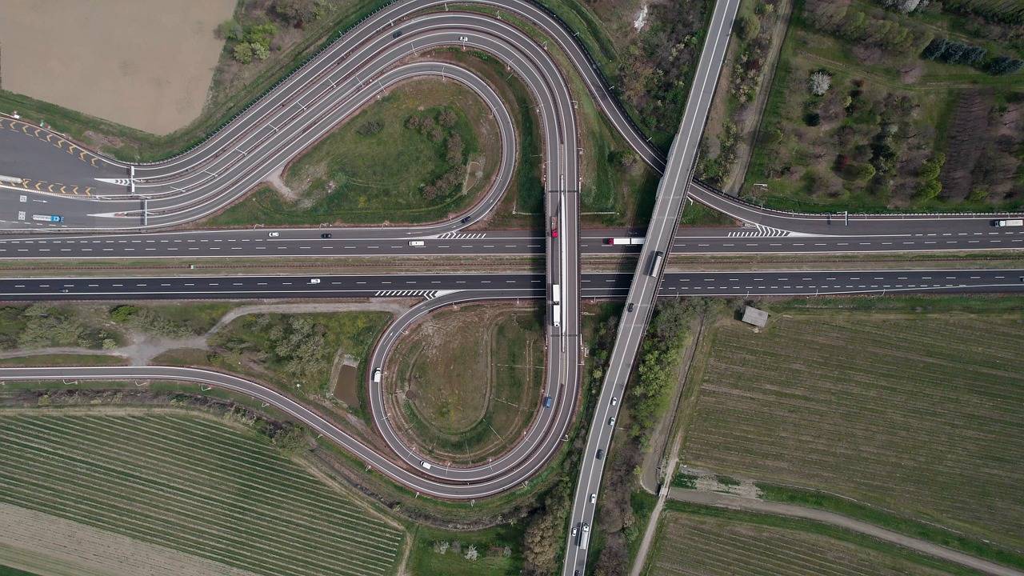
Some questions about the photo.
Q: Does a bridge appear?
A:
Yes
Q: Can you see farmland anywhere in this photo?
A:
Yes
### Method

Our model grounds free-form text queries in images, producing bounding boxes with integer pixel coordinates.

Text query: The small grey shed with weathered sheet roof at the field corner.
[742,307,767,328]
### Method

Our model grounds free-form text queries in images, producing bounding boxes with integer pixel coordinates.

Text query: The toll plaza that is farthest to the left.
[0,113,140,230]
